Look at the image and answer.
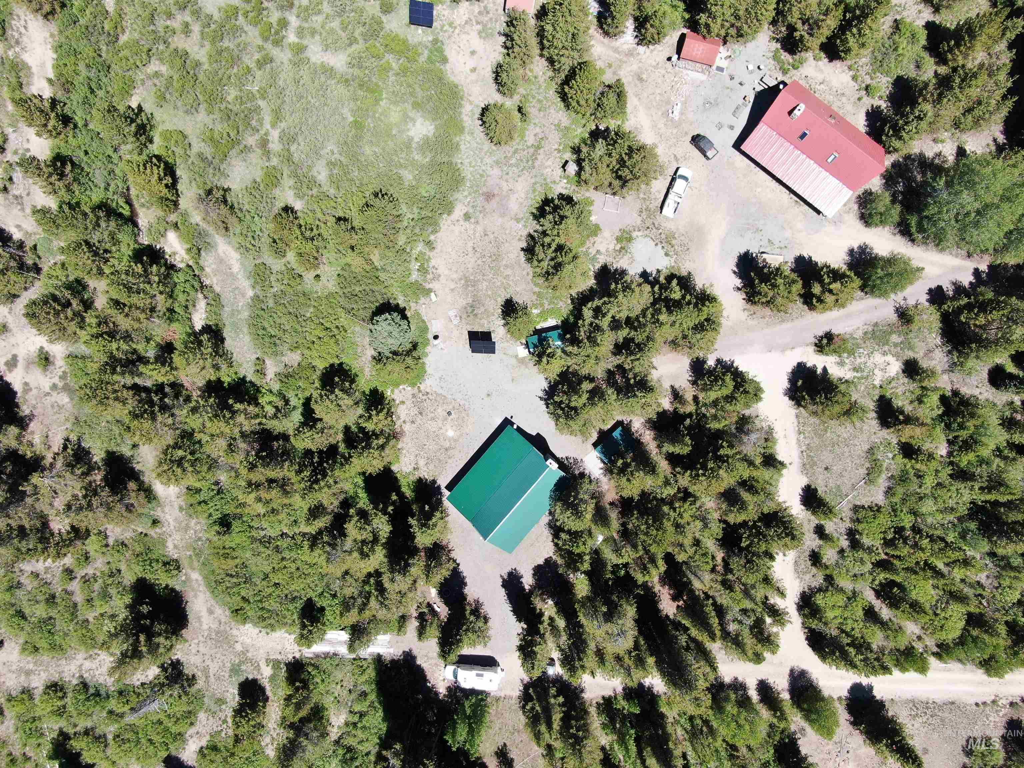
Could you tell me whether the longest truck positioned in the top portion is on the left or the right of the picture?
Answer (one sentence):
The longest truck positioned in the top portion is on the right side of the image.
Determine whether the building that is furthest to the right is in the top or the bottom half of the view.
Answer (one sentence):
The building that is furthest to the right is in the top half of the image.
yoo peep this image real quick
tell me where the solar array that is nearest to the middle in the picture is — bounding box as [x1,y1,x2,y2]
[471,340,496,354]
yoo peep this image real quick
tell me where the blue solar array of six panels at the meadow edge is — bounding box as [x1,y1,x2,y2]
[410,0,434,26]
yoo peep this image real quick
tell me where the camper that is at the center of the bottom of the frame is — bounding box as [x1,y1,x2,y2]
[446,664,503,696]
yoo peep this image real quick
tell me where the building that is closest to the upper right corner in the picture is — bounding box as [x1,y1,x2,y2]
[738,80,886,218]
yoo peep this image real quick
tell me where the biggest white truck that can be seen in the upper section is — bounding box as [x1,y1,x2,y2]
[659,165,693,221]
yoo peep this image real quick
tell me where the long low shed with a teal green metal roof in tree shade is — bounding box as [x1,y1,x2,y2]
[527,330,564,351]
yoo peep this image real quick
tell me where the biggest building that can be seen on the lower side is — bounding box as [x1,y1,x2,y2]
[447,424,566,554]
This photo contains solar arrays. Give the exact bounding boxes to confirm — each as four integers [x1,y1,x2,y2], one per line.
[471,340,496,354]
[410,0,434,26]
